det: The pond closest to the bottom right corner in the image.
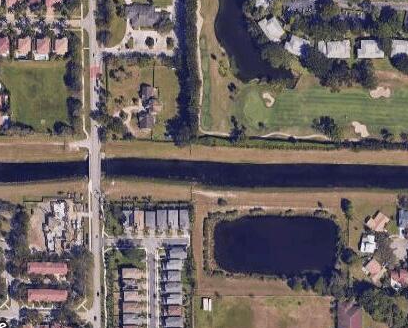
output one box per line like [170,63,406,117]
[215,216,338,274]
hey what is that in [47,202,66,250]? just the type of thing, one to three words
house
